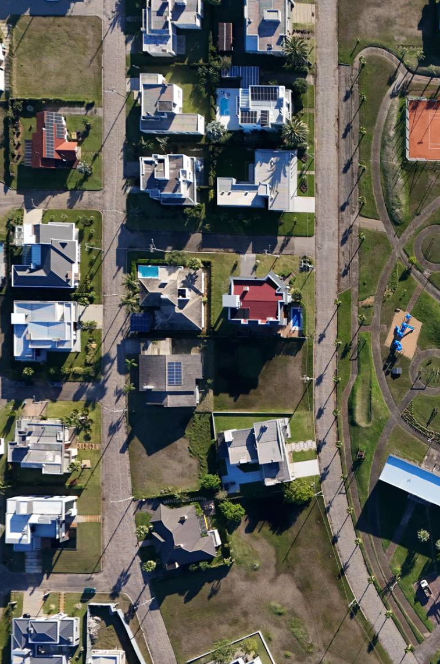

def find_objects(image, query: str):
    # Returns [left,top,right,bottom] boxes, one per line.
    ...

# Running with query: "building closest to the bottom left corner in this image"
[12,617,80,664]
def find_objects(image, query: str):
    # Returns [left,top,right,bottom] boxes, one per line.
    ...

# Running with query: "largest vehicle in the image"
[419,580,432,597]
